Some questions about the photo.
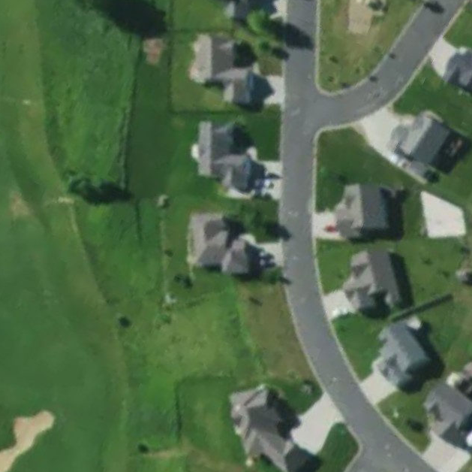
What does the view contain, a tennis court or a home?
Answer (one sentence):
This aerial view contains a home.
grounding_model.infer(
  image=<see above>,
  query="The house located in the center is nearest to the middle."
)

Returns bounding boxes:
[190,215,252,274]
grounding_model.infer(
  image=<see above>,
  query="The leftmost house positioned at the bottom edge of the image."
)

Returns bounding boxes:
[232,383,298,471]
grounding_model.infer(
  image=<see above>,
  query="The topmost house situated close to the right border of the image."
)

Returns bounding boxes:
[440,48,472,101]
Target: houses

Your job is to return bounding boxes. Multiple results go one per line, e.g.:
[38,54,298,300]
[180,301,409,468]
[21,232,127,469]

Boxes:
[197,33,256,103]
[440,48,472,101]
[198,121,254,191]
[227,0,261,21]
[422,377,472,452]
[333,182,390,238]
[383,112,452,180]
[232,383,298,471]
[190,215,252,274]
[377,316,433,391]
[344,248,400,313]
